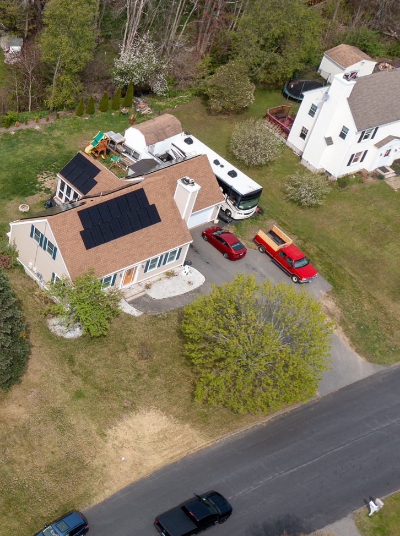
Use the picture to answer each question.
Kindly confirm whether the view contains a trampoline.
Yes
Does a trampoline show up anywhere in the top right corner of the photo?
Yes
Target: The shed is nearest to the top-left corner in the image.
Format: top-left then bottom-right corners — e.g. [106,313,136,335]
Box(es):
[0,36,24,55]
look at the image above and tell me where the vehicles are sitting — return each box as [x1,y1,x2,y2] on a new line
[201,225,248,260]
[171,138,268,222]
[155,491,239,536]
[256,230,320,284]
[33,507,93,536]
